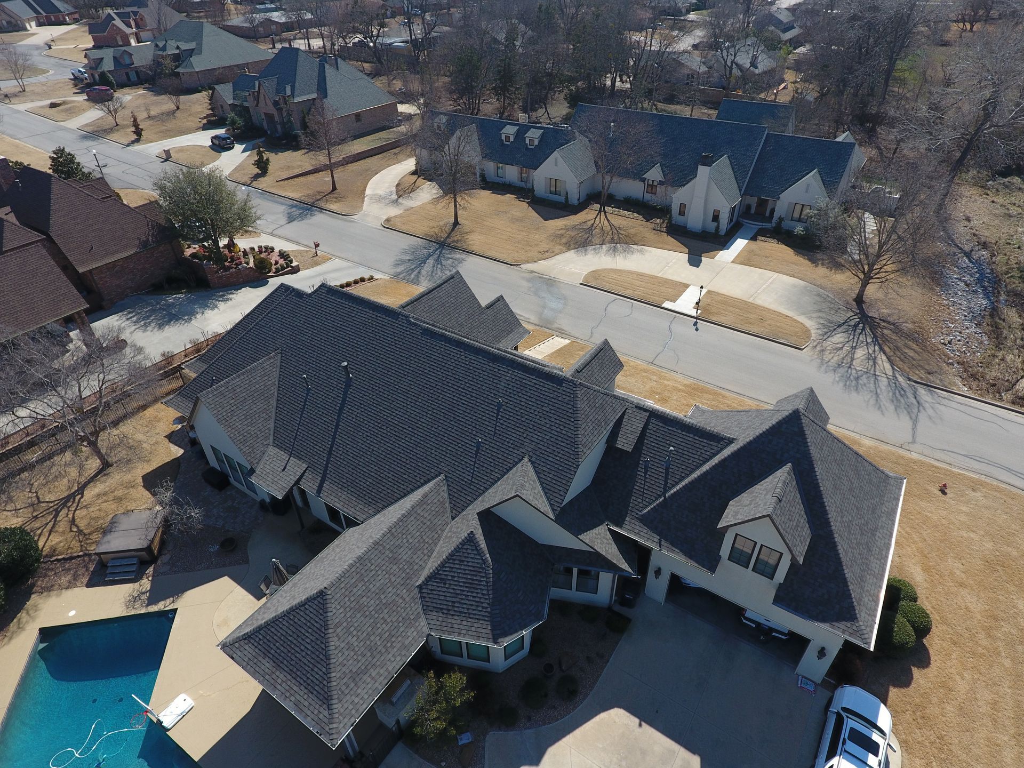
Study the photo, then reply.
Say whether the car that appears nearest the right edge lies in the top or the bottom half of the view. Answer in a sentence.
The car that appears nearest the right edge is in the bottom half of the image.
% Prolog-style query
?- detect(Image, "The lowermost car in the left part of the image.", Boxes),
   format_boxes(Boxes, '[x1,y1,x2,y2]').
[213,132,238,149]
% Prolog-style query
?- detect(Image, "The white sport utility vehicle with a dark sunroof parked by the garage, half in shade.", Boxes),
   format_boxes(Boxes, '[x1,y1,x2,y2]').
[813,683,894,768]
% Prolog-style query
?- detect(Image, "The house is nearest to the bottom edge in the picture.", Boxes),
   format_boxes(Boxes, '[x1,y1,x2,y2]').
[159,270,913,768]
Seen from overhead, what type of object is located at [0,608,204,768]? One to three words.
swimming pool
